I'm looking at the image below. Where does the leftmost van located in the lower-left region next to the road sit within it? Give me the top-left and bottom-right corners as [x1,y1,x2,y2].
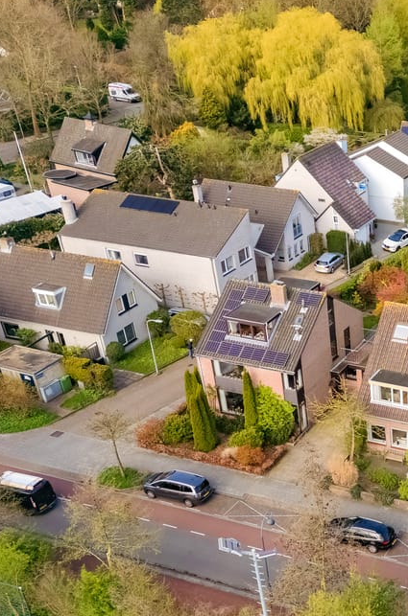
[0,468,53,513]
